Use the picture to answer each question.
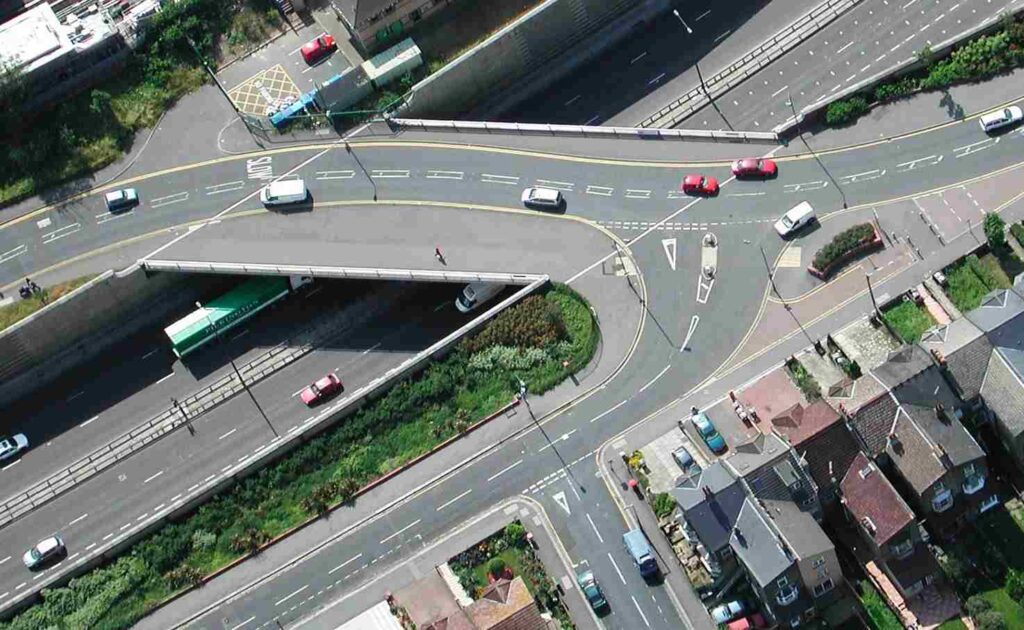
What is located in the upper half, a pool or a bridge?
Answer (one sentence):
It is a bridge that can be seen in the upper half.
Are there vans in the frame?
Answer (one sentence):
Yes, the frame does contain a van.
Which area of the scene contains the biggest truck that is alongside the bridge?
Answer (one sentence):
The biggest truck that is alongside the bridge appears toward the left of the photo.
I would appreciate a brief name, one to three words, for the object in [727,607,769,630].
car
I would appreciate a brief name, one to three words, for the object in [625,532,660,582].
van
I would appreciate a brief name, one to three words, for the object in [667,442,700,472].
car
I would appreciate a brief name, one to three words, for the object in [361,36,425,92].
building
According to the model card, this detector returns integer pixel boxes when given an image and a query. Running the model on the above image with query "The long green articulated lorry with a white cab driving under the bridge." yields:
[166,272,311,358]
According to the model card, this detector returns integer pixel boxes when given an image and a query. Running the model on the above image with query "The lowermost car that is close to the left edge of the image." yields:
[26,539,65,568]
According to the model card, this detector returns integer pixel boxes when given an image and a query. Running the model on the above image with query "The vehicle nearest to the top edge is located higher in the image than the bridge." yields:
[300,35,336,59]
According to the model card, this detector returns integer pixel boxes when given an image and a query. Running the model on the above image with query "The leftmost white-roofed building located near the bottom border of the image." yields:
[333,600,405,630]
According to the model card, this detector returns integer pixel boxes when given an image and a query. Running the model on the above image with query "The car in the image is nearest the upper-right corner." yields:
[979,106,1024,131]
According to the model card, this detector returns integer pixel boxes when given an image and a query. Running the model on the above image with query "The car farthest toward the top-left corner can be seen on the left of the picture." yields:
[106,189,139,210]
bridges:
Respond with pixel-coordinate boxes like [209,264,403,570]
[142,114,788,287]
